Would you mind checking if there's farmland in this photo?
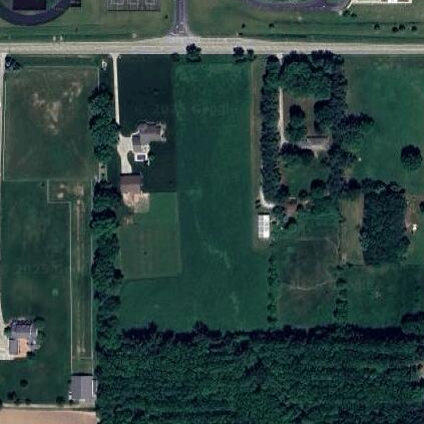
Yes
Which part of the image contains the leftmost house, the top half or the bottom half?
bottom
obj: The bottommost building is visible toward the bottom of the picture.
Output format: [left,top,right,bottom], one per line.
[69,374,94,401]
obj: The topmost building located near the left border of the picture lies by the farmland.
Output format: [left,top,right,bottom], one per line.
[9,319,37,354]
